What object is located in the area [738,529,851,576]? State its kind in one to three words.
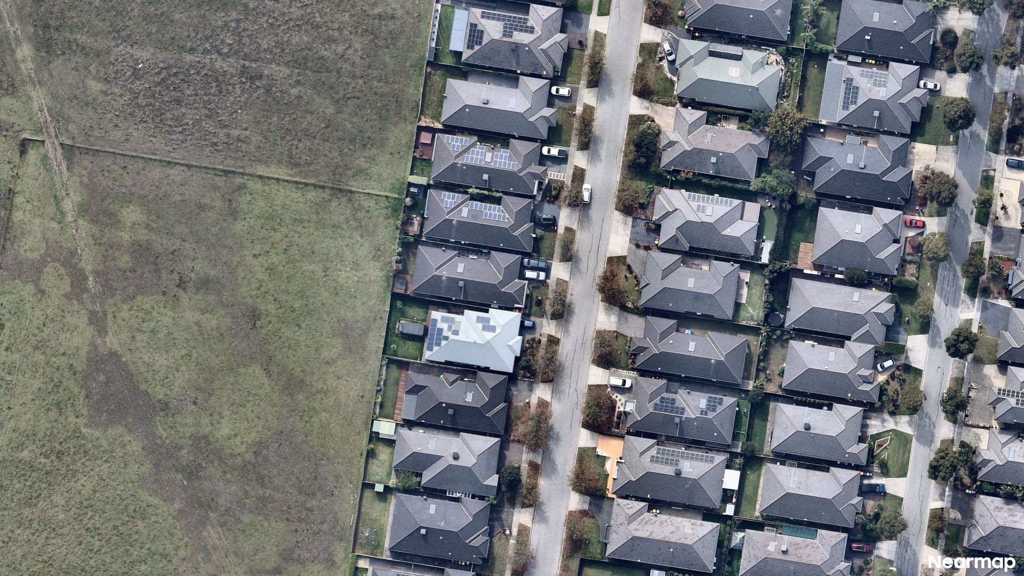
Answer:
house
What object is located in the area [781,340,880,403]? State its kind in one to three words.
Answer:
house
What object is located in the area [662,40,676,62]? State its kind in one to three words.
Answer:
car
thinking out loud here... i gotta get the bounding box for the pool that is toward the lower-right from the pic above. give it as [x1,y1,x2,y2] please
[782,526,816,539]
